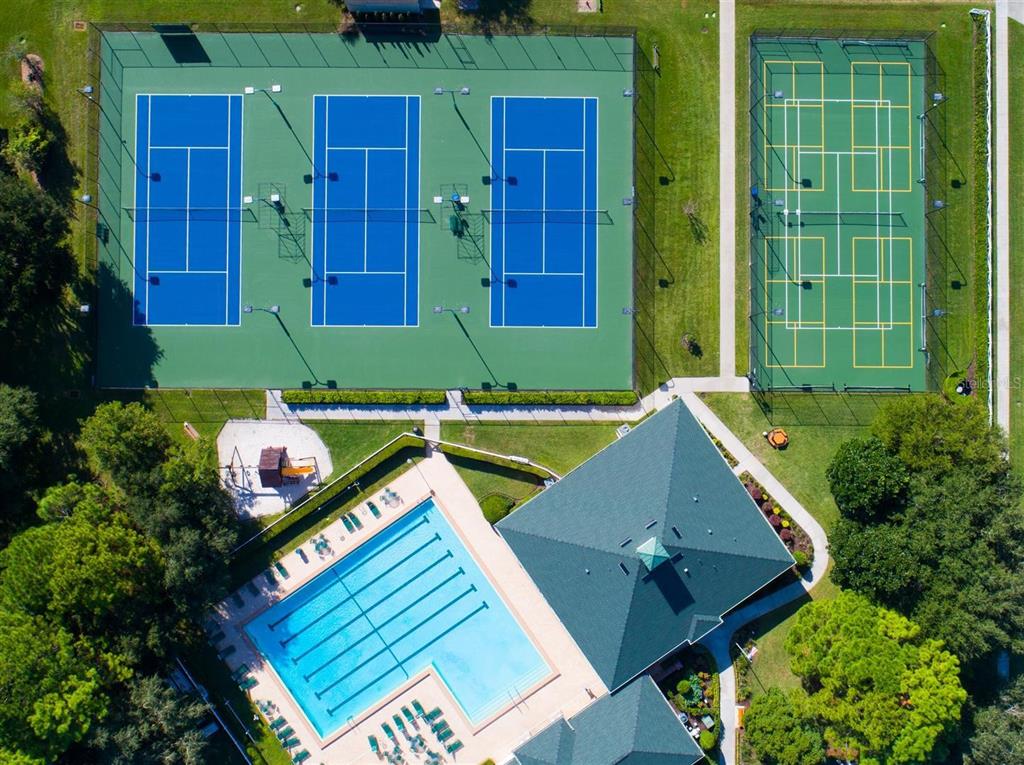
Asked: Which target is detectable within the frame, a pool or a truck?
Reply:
pool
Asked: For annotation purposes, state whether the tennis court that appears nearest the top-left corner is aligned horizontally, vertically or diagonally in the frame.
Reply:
vertically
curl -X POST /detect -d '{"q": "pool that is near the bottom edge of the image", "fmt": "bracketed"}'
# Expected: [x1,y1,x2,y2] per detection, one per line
[232,490,563,750]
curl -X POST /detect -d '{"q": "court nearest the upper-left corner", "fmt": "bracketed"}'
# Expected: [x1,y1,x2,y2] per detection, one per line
[132,94,243,326]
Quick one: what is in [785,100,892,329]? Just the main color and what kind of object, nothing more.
green tennis court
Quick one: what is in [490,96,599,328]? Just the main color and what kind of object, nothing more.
blue tennis court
